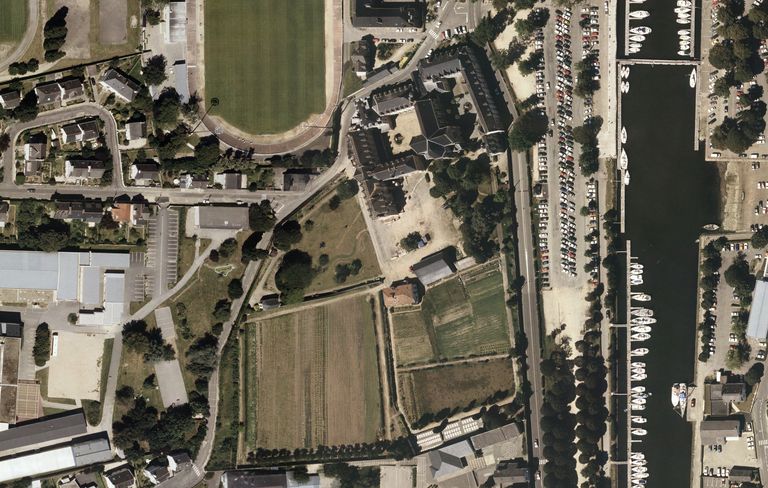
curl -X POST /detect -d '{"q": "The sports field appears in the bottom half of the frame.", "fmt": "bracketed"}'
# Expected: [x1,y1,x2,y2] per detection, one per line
[48,333,105,401]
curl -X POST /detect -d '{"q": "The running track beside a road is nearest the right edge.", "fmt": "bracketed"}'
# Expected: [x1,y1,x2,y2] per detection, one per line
[187,0,344,156]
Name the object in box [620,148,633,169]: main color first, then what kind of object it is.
white boat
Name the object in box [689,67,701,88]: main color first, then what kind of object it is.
white boat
